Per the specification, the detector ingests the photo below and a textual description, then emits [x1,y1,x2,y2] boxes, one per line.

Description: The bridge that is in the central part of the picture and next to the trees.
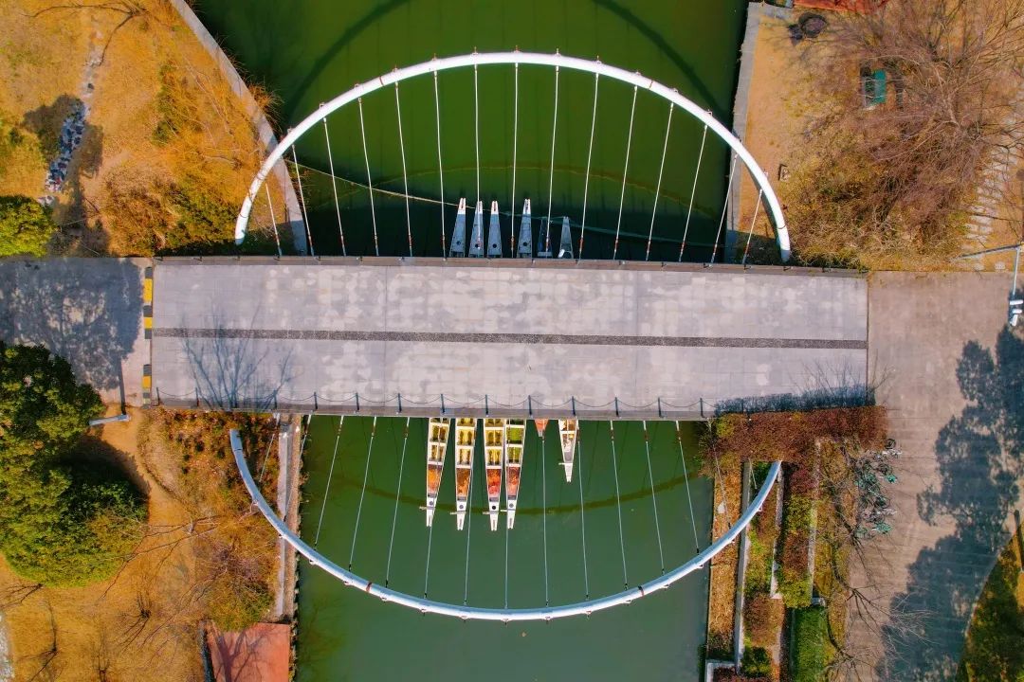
[146,39,873,631]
